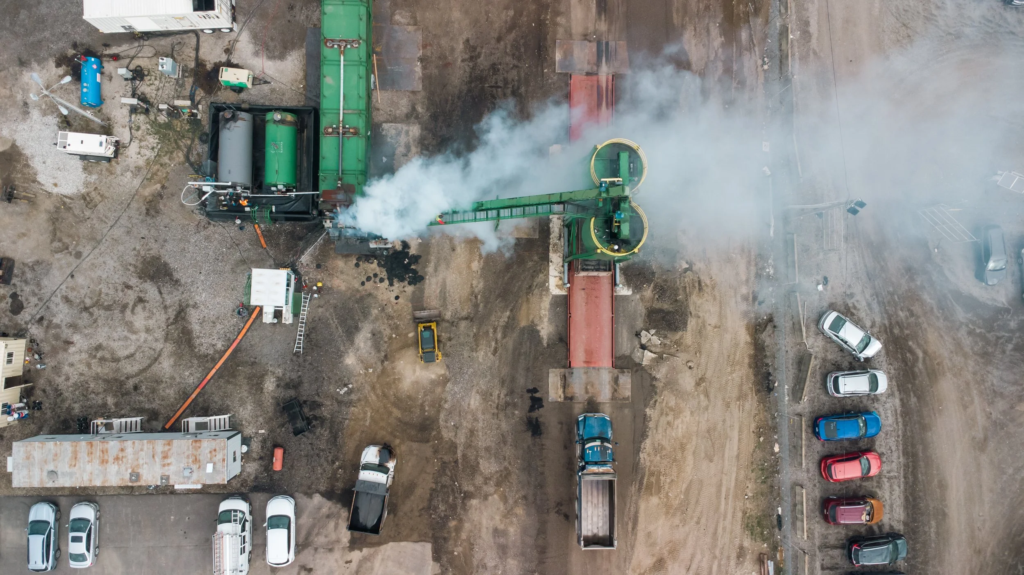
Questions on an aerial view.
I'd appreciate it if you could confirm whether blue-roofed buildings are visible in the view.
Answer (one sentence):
No, the photo shows no blue-roofed building.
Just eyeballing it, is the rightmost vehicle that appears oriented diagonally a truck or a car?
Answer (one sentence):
The rightmost vehicle that appears oriented diagonally in the image is a car.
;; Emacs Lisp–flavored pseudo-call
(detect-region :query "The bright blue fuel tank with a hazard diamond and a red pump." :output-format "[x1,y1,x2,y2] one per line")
[66,52,109,109]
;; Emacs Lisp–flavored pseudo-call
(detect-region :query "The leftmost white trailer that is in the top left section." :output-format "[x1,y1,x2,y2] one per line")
[56,132,122,163]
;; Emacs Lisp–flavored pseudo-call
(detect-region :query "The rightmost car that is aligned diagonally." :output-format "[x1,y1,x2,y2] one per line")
[813,307,884,361]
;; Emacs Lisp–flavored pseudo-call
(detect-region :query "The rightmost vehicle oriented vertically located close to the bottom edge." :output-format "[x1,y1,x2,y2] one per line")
[572,409,617,553]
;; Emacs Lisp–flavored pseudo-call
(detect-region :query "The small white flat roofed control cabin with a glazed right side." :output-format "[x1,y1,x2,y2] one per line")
[249,266,311,327]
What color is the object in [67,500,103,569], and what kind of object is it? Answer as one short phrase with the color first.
white car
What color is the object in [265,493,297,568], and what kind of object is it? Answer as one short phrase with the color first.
white car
